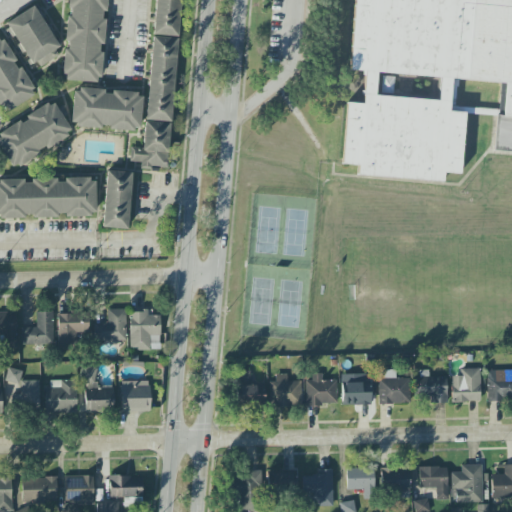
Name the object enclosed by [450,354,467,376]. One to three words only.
swimming pool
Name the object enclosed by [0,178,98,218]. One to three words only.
building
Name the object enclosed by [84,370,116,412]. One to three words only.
house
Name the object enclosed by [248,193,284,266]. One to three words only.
tennis court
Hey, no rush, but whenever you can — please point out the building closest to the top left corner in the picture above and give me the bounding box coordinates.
[8,6,62,64]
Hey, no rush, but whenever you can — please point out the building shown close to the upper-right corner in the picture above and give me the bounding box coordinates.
[342,0,512,182]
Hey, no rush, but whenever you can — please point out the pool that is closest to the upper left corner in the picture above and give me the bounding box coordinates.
[60,135,125,165]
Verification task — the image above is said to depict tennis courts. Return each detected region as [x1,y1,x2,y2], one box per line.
[248,193,284,266]
[278,196,317,268]
[273,267,312,340]
[242,266,278,338]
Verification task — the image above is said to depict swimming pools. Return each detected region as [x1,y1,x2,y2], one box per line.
[98,364,115,386]
[450,354,467,376]
[340,359,352,370]
[60,135,125,165]
[118,366,148,381]
[102,341,125,356]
